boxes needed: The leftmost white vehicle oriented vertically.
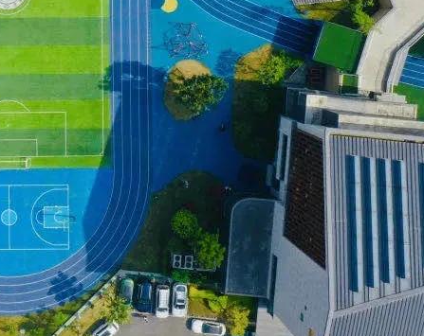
[155,283,170,317]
